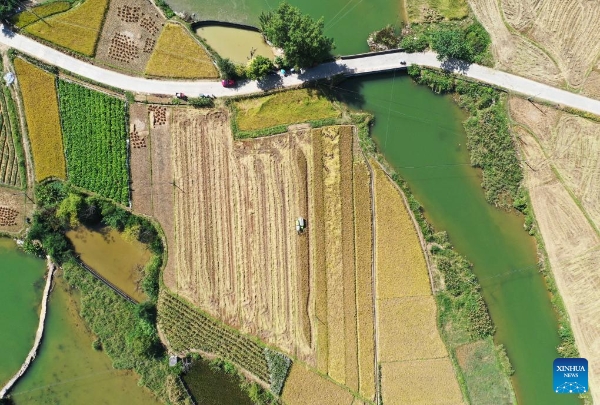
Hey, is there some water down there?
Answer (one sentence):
Yes, some water is visible.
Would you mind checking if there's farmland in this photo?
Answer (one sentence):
Yes, some farmland is visible.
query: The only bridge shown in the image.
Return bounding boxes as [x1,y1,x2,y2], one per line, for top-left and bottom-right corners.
[338,47,408,79]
